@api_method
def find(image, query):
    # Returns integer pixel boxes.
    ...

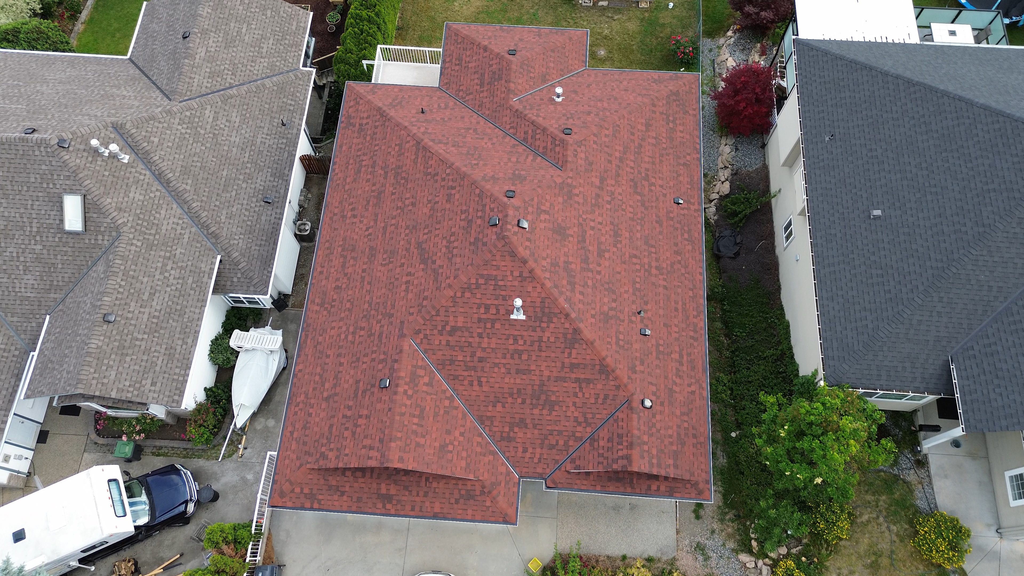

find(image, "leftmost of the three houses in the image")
[0,0,322,511]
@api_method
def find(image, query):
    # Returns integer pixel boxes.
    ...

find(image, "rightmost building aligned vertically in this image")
[766,0,1024,550]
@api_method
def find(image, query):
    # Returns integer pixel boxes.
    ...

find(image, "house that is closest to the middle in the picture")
[266,22,713,527]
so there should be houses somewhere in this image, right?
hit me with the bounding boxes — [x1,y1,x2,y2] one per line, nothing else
[766,0,1024,550]
[266,22,713,527]
[0,0,322,511]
